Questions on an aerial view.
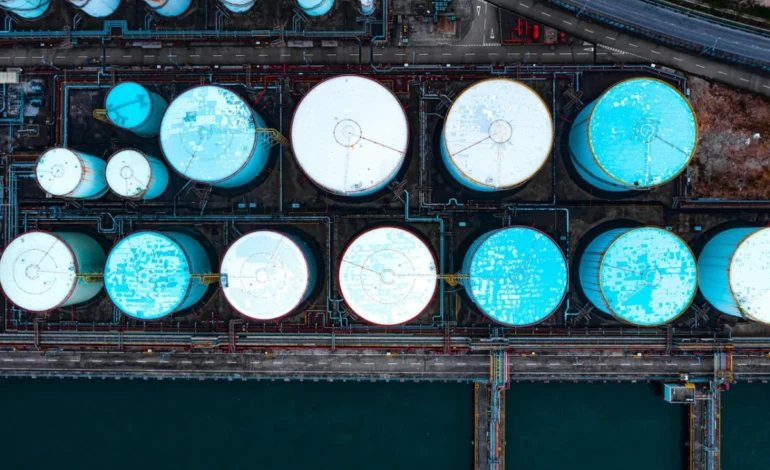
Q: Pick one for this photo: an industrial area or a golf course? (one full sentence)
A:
What you see here is an industrial area.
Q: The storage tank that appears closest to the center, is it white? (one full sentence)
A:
Yes, the storage tank that appears closest to the center is indeed white.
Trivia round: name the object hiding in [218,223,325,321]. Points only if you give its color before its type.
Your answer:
white storage tank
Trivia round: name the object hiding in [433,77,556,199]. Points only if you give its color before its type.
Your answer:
white storage tank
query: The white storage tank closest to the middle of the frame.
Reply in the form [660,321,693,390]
[336,220,441,327]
